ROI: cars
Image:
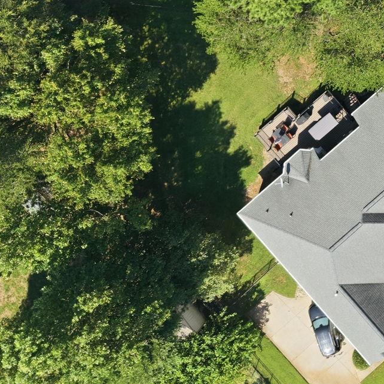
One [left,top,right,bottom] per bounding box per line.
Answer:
[251,292,368,384]
[305,304,339,360]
